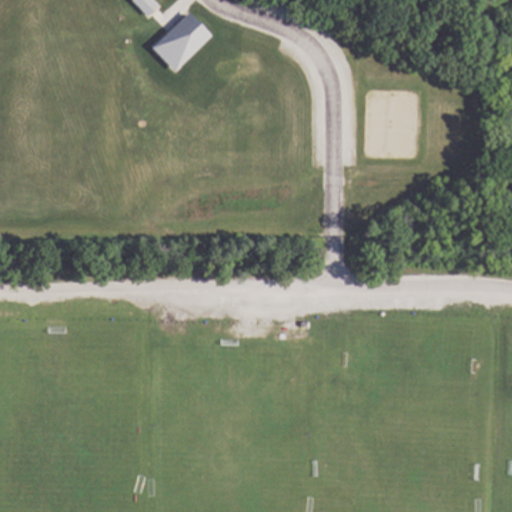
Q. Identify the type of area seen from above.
sports ground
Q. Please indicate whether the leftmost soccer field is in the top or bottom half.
bottom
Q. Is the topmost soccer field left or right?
right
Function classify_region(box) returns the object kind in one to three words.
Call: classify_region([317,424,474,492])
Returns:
soccer field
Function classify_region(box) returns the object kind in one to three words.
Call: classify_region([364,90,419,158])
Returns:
sports court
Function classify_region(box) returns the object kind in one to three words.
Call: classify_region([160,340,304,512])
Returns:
soccer field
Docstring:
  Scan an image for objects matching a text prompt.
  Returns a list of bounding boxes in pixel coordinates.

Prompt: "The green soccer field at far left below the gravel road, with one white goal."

[0,326,138,512]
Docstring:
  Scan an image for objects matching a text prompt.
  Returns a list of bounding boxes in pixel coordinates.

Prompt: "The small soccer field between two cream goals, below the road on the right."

[343,322,476,412]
